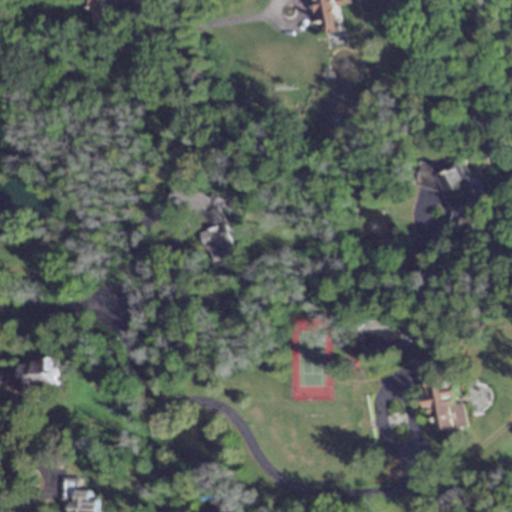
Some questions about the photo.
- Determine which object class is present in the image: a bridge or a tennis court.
tennis court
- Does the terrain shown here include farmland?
No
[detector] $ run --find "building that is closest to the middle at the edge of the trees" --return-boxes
[202,203,236,262]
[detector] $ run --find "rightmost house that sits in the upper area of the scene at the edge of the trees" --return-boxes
[417,162,472,196]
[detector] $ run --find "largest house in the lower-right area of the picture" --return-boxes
[422,381,472,430]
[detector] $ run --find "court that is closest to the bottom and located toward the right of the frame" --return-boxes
[292,318,334,400]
